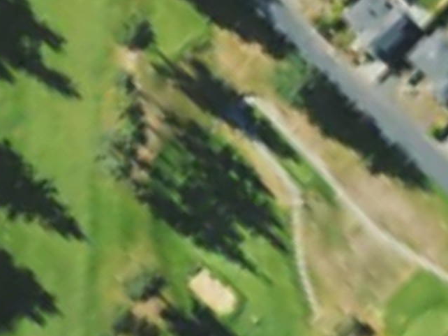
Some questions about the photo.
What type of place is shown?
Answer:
golf course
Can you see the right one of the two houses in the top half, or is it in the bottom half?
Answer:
top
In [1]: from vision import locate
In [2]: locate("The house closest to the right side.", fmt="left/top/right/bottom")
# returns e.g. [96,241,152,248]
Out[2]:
[405,26,448,92]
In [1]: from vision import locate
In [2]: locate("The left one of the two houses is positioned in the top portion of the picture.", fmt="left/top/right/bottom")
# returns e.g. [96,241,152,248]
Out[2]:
[346,0,420,64]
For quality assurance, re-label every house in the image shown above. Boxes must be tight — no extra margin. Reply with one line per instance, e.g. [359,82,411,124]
[346,0,420,64]
[405,26,448,92]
